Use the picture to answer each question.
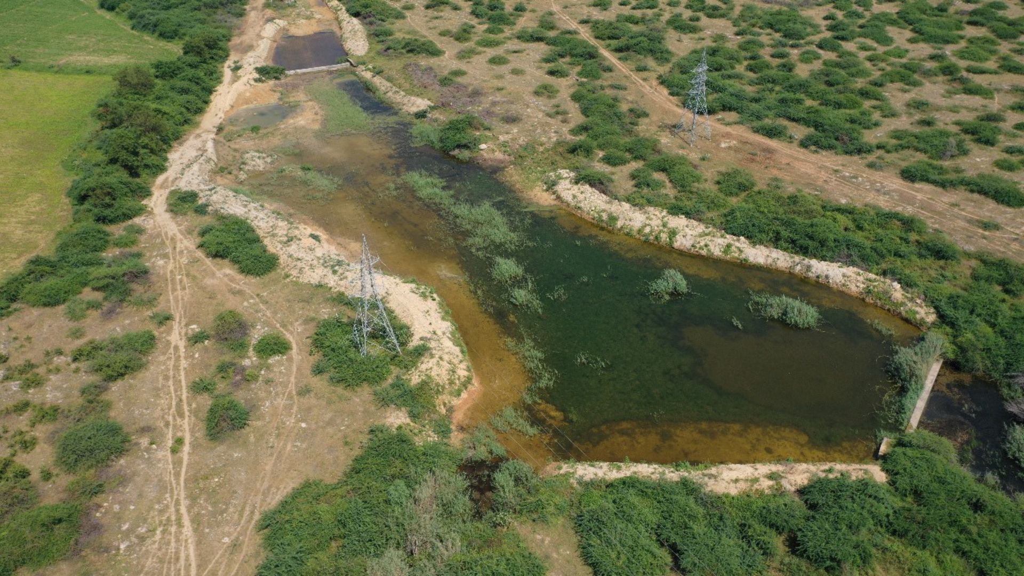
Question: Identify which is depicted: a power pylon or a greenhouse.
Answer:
power pylon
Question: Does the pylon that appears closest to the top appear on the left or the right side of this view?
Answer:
right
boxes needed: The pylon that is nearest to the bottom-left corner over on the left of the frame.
[348,233,400,356]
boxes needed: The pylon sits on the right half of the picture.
[673,48,713,145]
